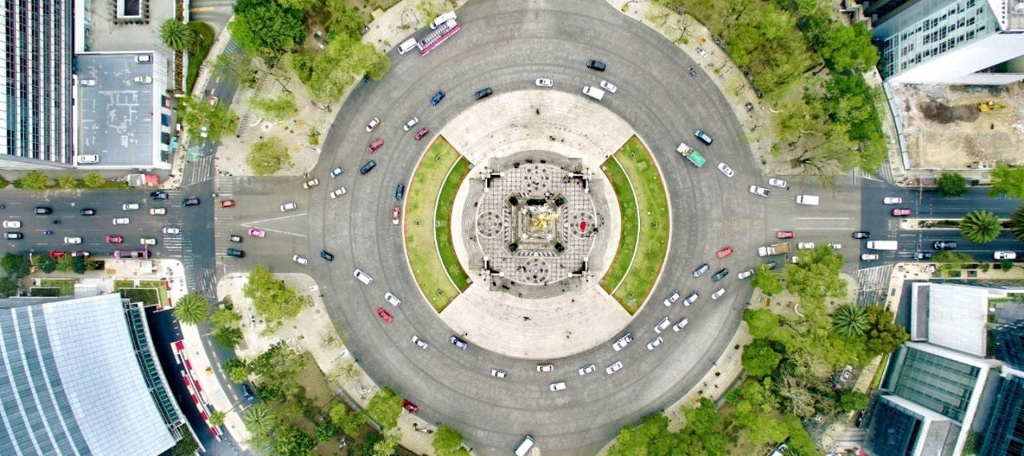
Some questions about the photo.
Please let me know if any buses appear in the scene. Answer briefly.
Yes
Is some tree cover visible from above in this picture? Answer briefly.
Yes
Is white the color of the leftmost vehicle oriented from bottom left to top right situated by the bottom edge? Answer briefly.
Yes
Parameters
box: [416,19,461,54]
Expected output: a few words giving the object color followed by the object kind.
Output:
white bus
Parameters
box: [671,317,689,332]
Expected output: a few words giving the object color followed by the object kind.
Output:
white car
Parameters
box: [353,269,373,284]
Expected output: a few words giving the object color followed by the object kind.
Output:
white vehicle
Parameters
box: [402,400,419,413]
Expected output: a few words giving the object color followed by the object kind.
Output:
red vehicle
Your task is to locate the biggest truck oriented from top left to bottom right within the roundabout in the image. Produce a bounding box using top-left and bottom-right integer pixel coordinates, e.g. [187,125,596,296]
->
[674,141,708,169]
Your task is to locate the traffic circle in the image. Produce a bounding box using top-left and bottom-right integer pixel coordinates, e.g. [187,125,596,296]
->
[306,0,766,454]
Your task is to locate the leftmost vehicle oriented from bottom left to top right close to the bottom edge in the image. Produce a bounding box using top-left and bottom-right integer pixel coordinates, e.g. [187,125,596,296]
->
[511,430,537,456]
